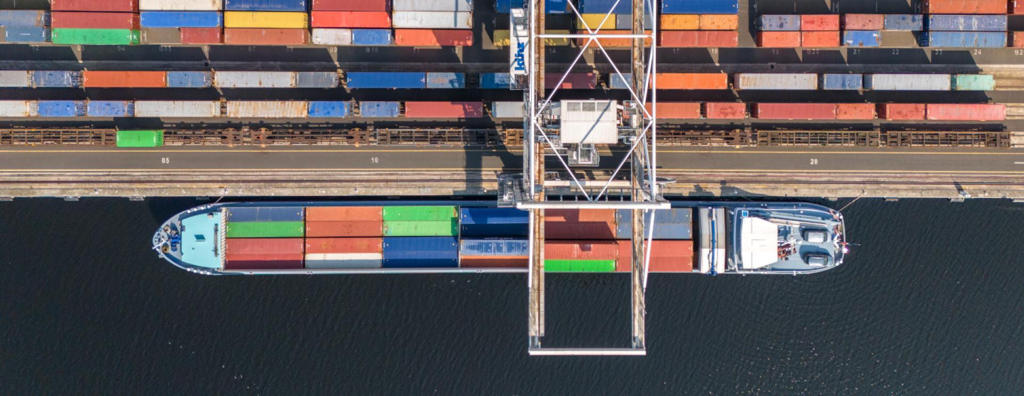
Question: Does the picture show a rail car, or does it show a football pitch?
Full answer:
Looking from above, you can make out a rail car.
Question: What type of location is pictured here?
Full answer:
The picture captures a port.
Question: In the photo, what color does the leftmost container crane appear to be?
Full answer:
From above, the leftmost container crane appears white.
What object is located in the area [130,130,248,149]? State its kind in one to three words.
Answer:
rail car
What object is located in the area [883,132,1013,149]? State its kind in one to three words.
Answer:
rail car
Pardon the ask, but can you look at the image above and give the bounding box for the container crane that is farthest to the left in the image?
[497,0,675,355]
